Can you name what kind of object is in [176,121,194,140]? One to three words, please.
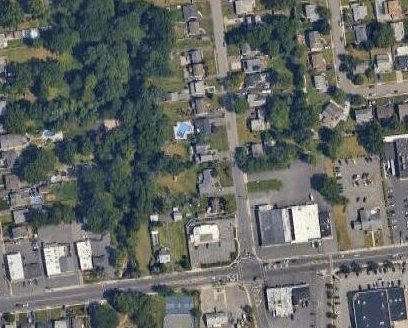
swimming pool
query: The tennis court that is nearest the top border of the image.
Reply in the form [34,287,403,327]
[166,295,195,314]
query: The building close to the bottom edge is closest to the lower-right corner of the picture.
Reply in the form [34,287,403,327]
[355,286,407,328]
